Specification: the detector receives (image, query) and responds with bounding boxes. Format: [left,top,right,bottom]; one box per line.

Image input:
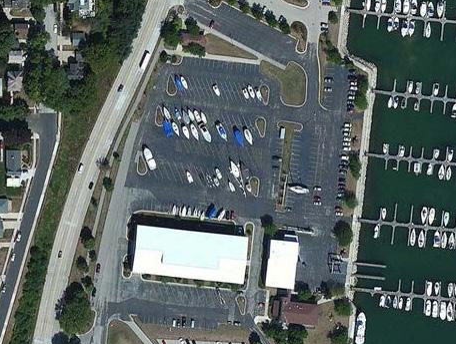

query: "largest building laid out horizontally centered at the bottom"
[131,225,247,285]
